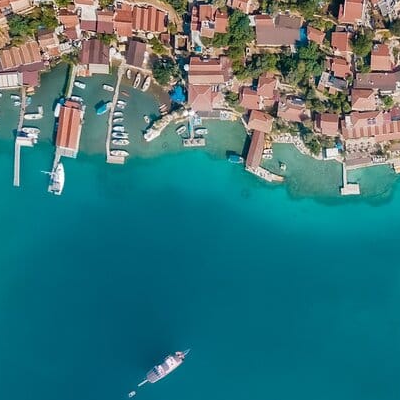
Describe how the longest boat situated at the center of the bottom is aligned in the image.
at an angle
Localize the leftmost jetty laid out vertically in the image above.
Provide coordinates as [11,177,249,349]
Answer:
[14,86,34,186]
